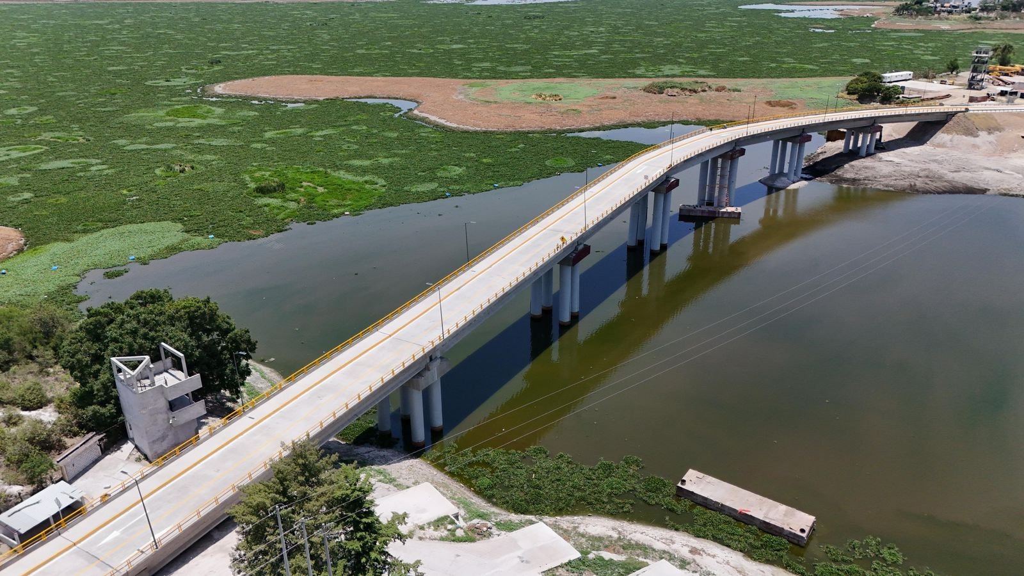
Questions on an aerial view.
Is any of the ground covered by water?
Yes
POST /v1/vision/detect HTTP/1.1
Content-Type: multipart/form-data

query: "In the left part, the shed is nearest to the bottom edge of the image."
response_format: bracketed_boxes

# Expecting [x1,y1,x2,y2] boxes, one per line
[0,481,87,548]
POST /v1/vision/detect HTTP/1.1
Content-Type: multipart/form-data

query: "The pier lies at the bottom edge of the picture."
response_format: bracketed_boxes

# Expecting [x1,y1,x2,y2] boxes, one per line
[675,470,815,551]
